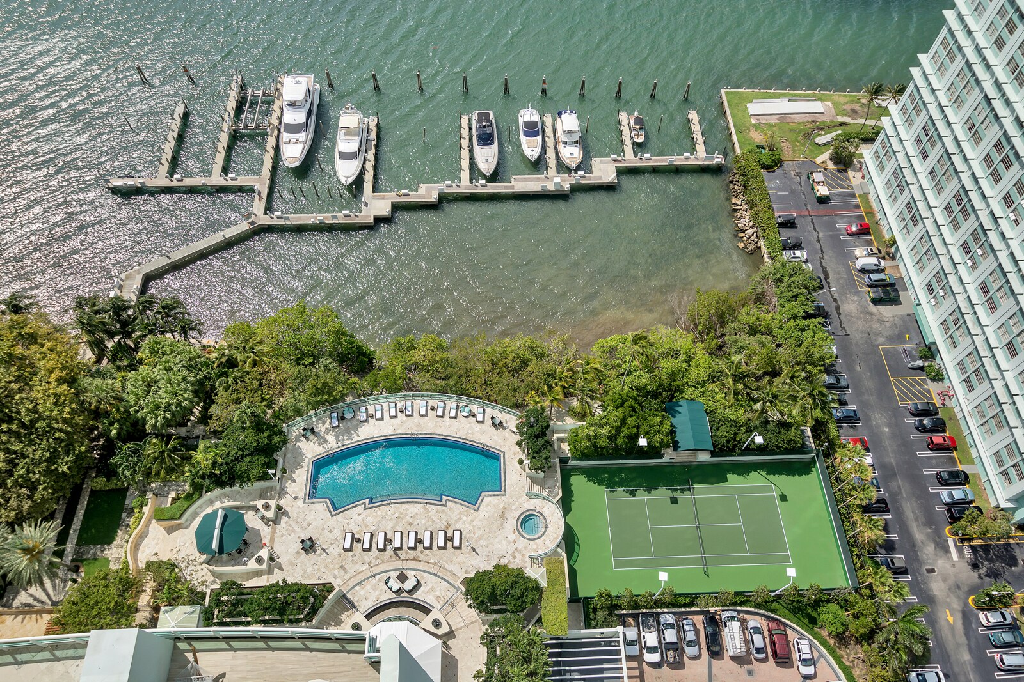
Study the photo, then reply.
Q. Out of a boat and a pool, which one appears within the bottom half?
pool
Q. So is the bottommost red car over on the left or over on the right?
right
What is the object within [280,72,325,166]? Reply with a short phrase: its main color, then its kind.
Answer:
white boat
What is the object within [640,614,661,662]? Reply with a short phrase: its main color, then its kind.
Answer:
white truck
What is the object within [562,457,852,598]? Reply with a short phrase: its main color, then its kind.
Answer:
green tennis court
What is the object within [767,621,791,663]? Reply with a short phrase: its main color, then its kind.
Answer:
red car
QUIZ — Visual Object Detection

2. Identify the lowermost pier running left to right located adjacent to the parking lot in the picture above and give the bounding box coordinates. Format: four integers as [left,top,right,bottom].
[104,155,724,317]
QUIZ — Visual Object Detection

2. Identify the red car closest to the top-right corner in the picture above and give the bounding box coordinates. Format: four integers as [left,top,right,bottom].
[844,222,872,236]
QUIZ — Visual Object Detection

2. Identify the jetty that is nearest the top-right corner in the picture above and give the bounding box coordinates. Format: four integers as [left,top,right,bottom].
[686,101,707,156]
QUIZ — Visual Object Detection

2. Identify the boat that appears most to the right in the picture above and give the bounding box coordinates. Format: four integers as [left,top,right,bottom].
[630,114,645,144]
